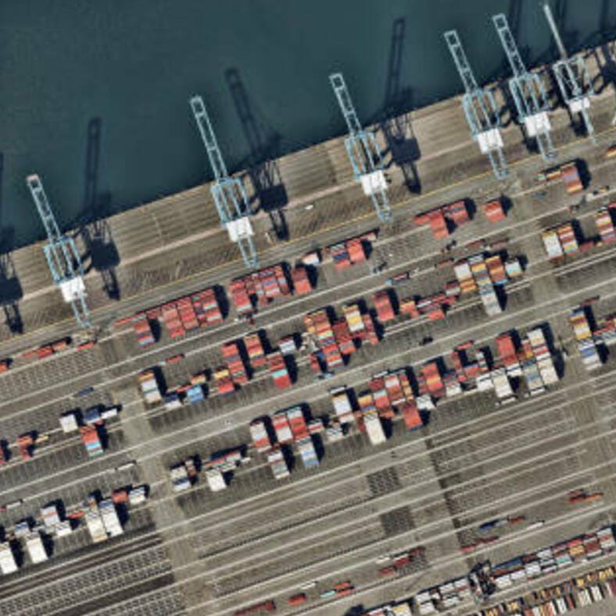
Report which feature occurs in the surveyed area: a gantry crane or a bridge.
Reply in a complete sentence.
The image shows a gantry crane.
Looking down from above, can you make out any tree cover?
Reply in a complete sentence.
No, tree cover can't be seen anywhere here.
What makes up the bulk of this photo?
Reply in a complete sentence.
Most of the picture is covered by buildings.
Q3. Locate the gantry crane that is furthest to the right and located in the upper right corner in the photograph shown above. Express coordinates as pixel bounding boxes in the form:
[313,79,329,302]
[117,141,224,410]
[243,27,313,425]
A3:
[542,4,597,148]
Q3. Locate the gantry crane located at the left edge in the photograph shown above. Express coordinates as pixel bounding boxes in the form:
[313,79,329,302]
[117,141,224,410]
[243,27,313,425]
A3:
[27,176,90,327]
